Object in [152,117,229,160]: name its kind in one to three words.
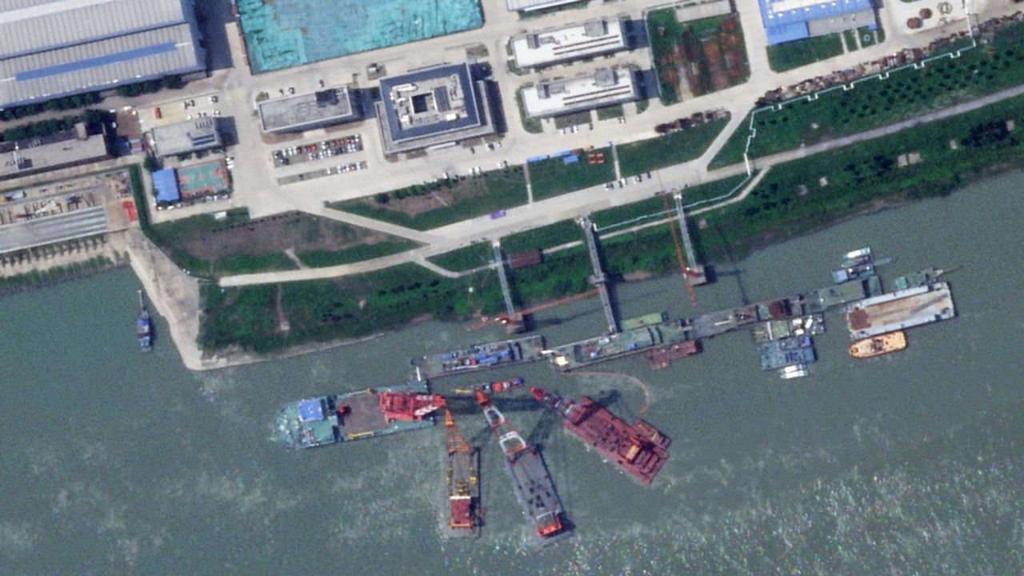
building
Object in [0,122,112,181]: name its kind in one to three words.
building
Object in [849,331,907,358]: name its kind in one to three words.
ship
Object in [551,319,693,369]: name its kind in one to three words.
pier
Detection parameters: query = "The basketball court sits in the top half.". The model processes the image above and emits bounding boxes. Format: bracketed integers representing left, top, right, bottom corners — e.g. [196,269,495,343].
[178,161,228,197]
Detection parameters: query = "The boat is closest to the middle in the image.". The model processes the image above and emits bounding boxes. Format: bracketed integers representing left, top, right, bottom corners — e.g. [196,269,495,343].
[455,378,524,395]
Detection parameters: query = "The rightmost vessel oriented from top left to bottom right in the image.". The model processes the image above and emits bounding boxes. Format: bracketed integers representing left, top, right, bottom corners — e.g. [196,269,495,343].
[532,387,669,482]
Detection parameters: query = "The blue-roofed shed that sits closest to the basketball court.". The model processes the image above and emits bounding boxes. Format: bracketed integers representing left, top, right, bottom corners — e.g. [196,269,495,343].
[153,169,182,203]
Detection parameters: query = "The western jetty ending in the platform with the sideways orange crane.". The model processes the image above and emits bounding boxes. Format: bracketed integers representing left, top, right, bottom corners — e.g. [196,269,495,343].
[493,241,528,334]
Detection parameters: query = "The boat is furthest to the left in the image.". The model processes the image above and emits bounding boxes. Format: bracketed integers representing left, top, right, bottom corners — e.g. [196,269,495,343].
[138,290,152,352]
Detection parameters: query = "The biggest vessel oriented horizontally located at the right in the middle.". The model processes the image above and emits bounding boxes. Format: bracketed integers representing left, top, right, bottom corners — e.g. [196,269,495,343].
[847,282,954,338]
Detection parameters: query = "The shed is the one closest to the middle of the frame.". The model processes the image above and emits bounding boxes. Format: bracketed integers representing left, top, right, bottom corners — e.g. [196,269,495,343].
[506,249,543,269]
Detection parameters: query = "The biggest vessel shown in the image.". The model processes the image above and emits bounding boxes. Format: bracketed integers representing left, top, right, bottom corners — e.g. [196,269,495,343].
[272,381,465,447]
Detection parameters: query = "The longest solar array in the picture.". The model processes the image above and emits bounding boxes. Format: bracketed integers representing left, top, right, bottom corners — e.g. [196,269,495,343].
[434,87,451,113]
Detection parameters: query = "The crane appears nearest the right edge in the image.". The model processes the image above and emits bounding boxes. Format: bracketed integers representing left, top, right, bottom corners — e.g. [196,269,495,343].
[655,168,698,305]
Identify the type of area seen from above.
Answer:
port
